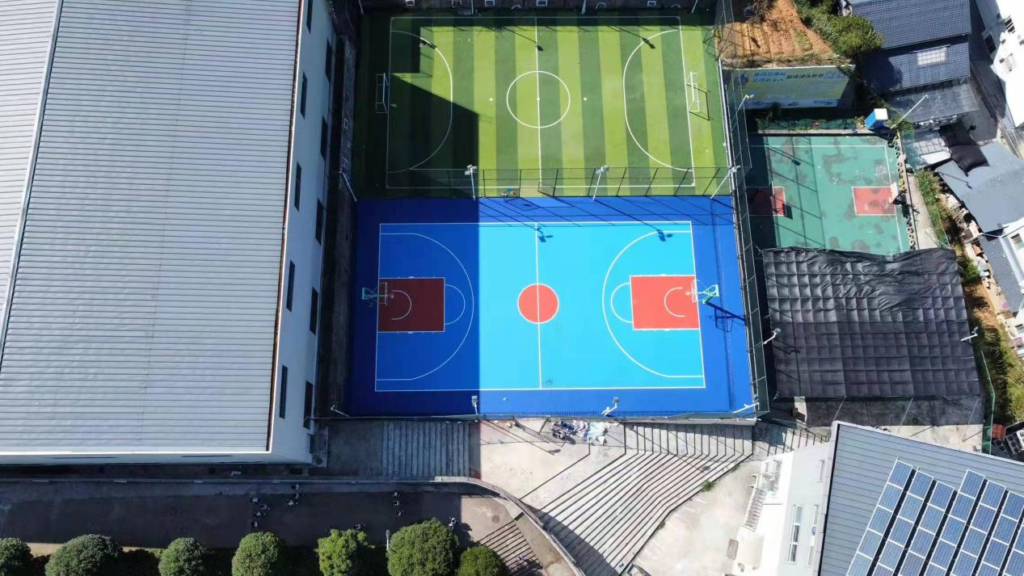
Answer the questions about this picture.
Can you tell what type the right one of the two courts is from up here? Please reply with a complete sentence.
In the photo, the right one of the two courts shows up as a basketball court.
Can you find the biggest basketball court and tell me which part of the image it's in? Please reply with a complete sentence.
The biggest basketball court is located in the center region of the scene.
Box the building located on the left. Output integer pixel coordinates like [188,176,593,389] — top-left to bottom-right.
[0,0,336,467]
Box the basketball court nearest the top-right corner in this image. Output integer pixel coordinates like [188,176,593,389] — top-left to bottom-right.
[735,135,908,338]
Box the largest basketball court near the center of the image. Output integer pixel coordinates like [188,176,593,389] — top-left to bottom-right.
[348,195,751,416]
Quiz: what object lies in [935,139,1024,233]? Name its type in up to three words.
shed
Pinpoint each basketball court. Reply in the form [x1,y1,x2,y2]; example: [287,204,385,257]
[735,135,908,338]
[348,195,751,416]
